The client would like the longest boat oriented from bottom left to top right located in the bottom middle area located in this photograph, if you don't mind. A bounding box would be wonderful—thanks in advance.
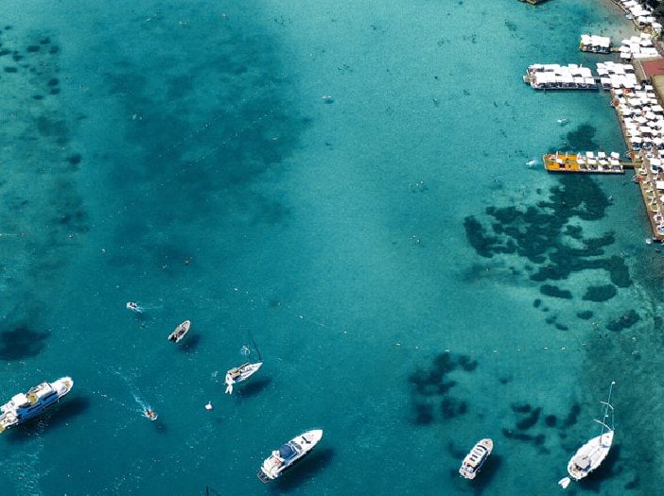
[253,425,328,487]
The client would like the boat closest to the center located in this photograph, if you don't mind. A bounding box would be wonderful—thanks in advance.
[223,334,262,387]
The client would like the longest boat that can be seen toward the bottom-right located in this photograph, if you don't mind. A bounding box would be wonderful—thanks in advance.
[562,396,614,485]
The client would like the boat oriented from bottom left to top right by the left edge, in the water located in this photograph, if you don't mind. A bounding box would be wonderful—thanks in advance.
[0,373,67,437]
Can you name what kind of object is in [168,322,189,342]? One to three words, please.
boat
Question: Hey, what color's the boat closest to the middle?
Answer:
white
